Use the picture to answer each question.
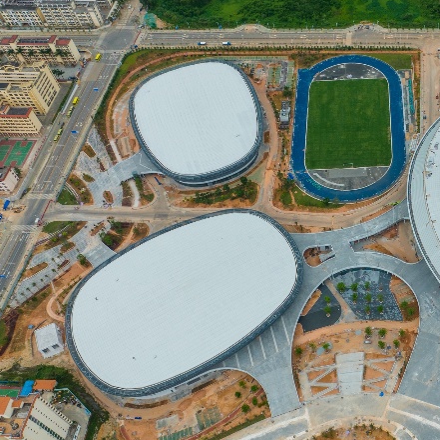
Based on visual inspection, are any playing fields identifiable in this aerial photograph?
Yes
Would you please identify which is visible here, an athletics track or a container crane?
athletics track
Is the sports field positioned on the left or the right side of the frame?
right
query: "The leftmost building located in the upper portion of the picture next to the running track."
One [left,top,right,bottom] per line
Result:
[128,59,264,190]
